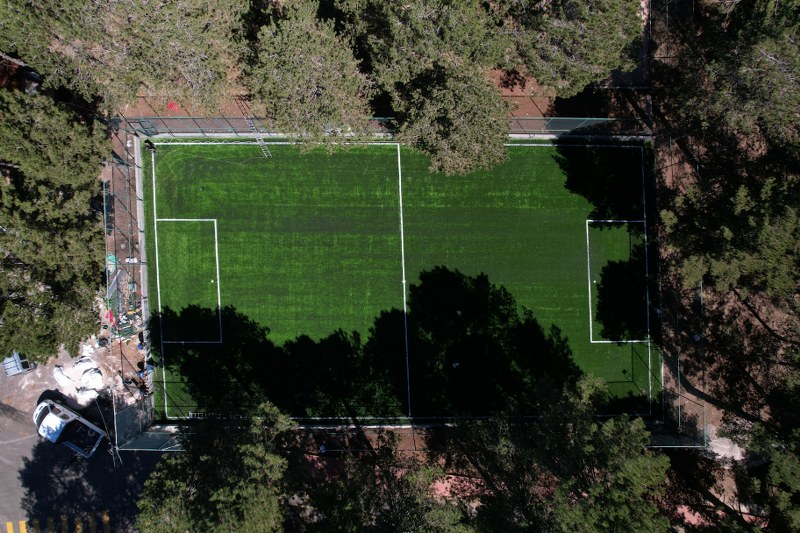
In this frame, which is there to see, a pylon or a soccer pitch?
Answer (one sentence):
The one in the frame is a soccer pitch.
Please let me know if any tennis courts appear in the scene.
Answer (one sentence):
No, I can't see a single tennis court in this photo.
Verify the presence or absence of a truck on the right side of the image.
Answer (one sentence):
No, I see no truck on the right side of the image.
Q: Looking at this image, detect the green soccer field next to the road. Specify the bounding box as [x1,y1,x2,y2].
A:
[134,133,667,427]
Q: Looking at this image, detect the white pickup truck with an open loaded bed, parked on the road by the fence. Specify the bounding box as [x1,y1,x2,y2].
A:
[33,394,112,458]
